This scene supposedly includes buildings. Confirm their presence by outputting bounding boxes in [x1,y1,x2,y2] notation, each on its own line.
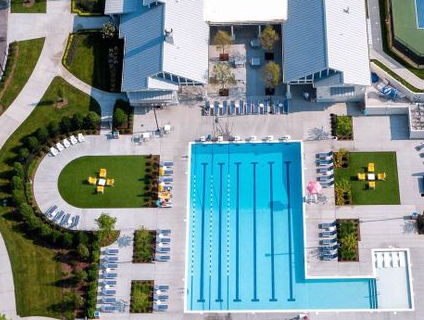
[284,0,371,103]
[104,0,210,106]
